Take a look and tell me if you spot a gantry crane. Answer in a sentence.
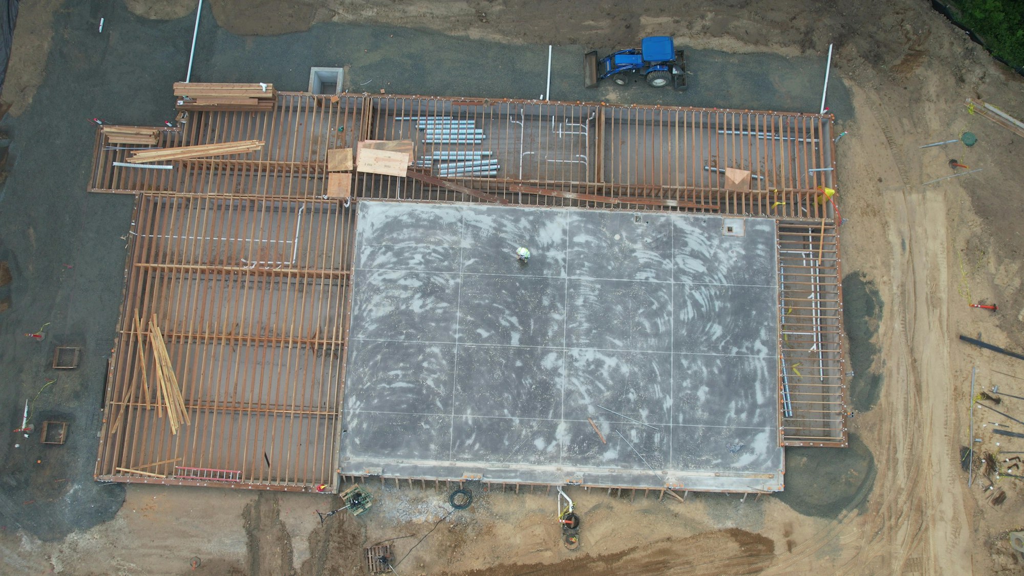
No, I can't see a single gantry crane in this photo.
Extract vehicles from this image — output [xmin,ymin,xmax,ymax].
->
[584,38,687,90]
